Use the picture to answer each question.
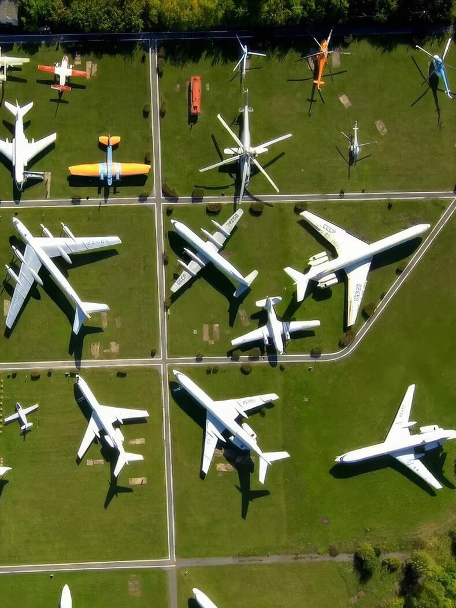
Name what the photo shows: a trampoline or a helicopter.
helicopter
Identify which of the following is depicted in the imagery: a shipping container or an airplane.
airplane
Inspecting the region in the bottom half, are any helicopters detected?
No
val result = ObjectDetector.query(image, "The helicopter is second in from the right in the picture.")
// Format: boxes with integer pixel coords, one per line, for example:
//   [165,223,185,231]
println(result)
[342,125,376,167]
